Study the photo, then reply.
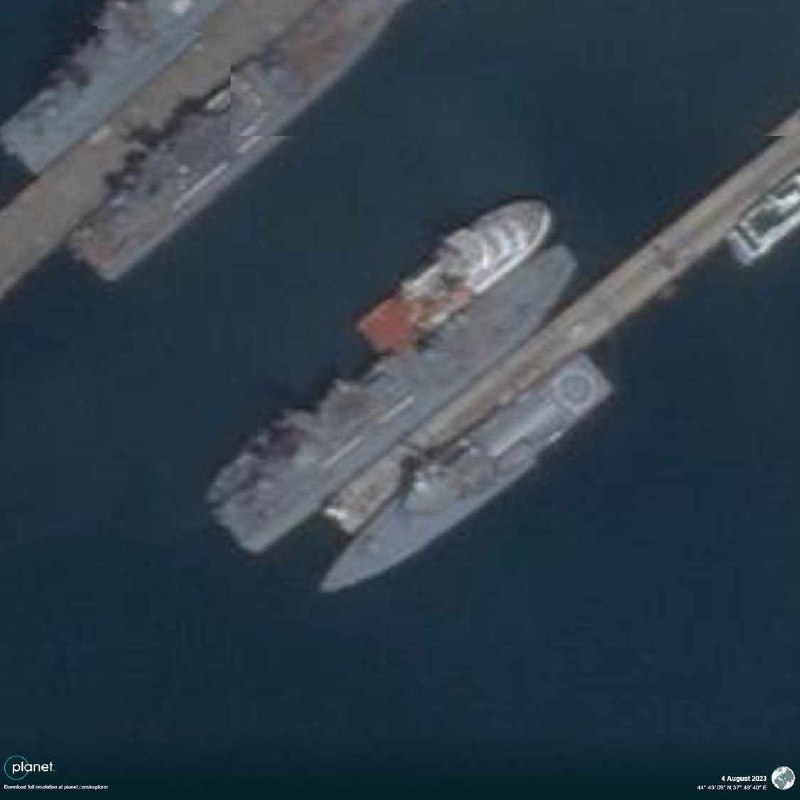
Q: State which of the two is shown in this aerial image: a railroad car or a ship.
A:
ship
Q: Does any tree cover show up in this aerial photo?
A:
No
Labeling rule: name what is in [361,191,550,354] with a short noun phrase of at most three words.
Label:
boat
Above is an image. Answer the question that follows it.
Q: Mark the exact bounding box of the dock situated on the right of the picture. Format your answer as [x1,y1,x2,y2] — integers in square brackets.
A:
[325,111,800,538]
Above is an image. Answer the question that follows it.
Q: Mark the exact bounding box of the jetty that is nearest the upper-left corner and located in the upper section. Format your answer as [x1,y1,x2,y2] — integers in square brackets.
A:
[0,0,335,300]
